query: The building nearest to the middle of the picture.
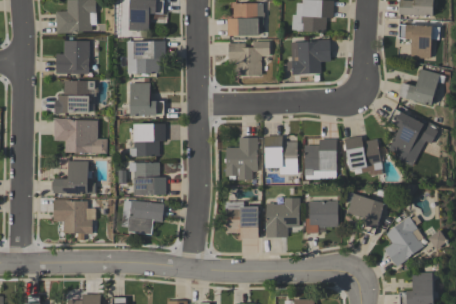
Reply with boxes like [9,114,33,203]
[226,138,258,180]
